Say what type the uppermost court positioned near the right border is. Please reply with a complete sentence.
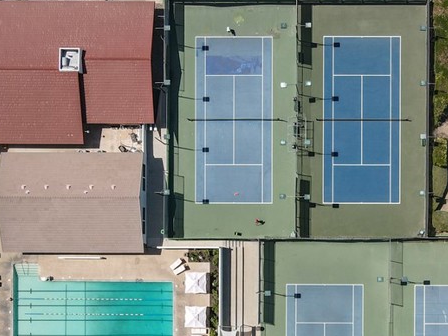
What you see as the uppermost court positioned near the right border is a tennis court.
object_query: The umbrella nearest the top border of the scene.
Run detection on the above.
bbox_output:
[185,272,207,293]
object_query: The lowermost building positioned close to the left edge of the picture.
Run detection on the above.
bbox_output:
[0,152,148,253]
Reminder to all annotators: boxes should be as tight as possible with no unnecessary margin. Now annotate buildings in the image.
[0,0,155,145]
[0,152,148,253]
